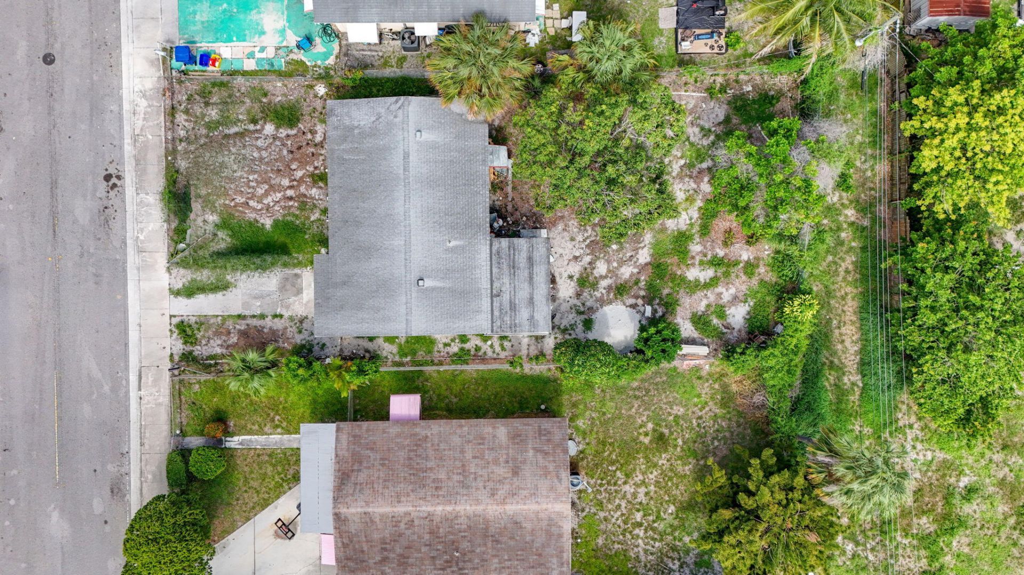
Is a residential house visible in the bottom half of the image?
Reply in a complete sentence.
Yes, a residential house shows up in the bottom half of the image.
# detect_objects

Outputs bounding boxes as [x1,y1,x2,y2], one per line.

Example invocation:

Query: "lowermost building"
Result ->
[299,394,573,575]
